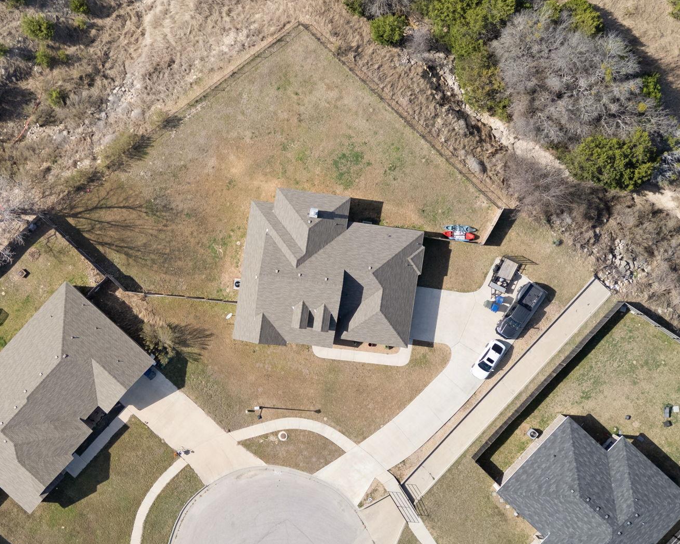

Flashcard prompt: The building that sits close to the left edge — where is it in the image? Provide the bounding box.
[0,282,154,514]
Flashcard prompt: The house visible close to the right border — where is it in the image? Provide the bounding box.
[497,416,680,544]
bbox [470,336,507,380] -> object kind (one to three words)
car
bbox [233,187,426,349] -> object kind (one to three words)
house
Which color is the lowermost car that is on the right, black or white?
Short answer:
white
